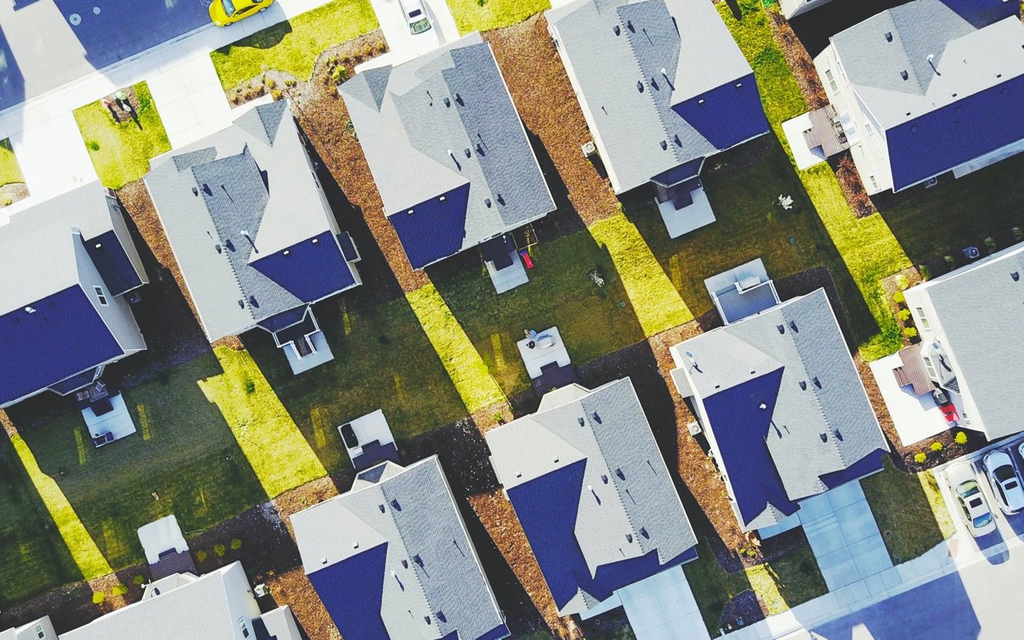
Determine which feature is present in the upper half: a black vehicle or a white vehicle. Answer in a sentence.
You can see a white vehicle in the upper half.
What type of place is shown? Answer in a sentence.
The picture captures a residential area.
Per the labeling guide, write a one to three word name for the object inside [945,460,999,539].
car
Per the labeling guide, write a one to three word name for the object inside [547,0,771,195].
house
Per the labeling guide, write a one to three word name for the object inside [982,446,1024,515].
car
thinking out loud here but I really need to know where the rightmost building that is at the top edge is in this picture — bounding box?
[814,0,1024,195]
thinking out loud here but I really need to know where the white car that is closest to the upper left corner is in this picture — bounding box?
[400,0,447,51]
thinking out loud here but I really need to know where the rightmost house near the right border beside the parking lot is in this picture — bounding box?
[903,243,1024,442]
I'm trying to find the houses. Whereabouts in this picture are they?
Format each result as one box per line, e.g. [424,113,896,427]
[0,176,148,410]
[57,561,308,640]
[291,448,514,640]
[0,615,57,640]
[667,285,891,529]
[483,375,699,616]
[547,0,771,195]
[780,0,833,18]
[814,0,1024,195]
[142,100,361,344]
[338,30,556,271]
[903,243,1024,442]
